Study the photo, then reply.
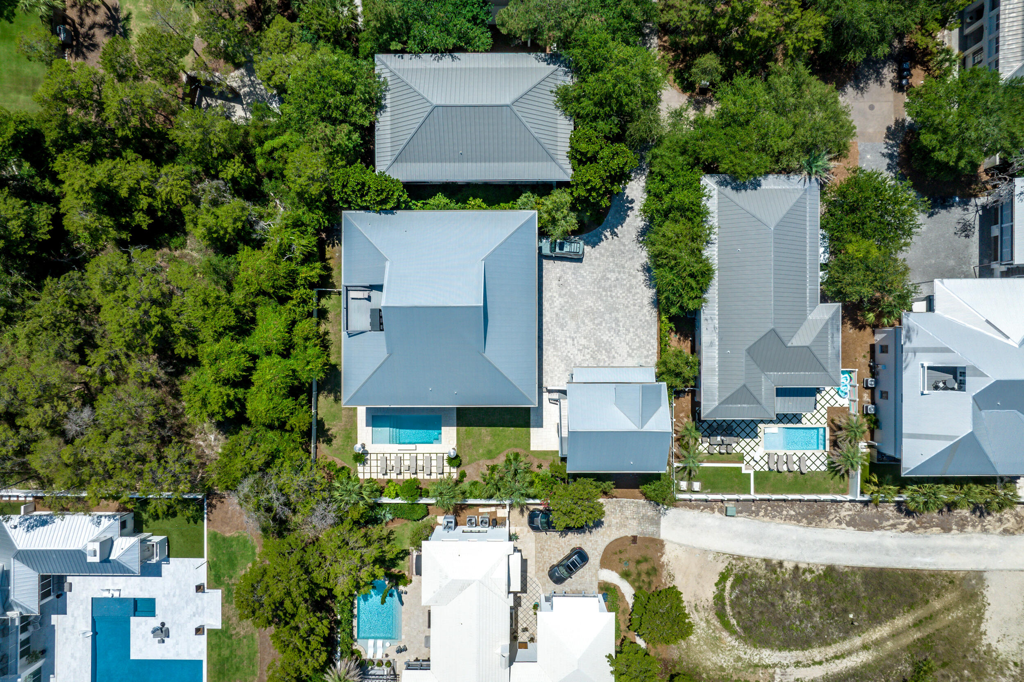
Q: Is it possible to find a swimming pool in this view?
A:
Yes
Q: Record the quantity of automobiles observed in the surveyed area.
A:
3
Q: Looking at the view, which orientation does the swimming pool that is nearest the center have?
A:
horizontally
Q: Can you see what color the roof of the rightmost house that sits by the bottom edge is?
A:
white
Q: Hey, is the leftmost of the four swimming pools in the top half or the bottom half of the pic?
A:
bottom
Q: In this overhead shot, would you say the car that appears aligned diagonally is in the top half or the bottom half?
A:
bottom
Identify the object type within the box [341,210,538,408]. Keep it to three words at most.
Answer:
house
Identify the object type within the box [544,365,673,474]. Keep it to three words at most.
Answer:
house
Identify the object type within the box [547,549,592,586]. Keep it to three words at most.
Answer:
car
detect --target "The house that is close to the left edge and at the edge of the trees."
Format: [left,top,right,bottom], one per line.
[0,513,167,682]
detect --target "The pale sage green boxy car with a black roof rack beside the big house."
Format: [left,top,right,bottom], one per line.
[539,237,584,258]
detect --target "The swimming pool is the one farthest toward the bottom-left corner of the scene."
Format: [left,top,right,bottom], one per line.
[92,598,202,682]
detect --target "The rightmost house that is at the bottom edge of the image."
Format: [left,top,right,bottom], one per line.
[511,591,616,682]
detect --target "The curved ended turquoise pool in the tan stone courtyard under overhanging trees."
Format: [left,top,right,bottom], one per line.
[357,576,402,654]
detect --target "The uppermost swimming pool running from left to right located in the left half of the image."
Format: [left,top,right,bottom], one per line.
[372,415,442,444]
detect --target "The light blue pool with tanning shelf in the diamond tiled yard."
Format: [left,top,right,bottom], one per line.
[764,428,826,450]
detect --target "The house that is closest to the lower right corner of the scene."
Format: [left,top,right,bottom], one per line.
[873,278,1024,477]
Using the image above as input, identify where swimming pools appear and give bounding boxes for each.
[357,576,402,654]
[372,415,442,444]
[92,598,202,682]
[764,428,826,450]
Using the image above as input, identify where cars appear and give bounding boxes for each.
[531,512,578,535]
[547,549,592,586]
[539,237,584,258]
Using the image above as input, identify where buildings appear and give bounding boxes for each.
[958,0,1024,96]
[511,591,616,682]
[973,177,1024,278]
[374,52,573,191]
[402,524,521,682]
[341,210,538,408]
[689,173,842,420]
[0,513,167,682]
[544,365,673,474]
[873,278,1024,477]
